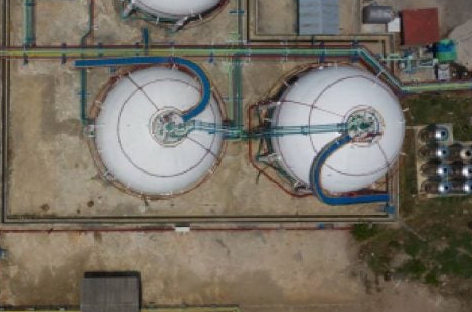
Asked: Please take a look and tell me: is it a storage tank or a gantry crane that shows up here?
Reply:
storage tank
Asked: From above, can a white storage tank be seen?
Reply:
Yes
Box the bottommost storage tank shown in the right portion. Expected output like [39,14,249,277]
[245,61,410,208]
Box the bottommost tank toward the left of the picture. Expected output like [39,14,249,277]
[74,55,247,201]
